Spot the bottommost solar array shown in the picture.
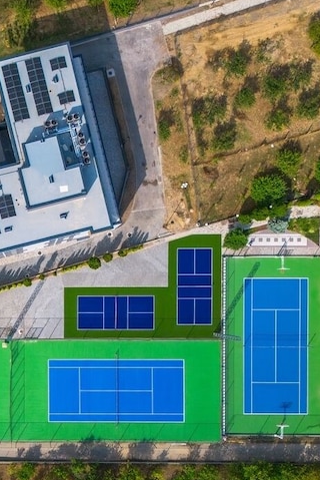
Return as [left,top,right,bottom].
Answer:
[0,194,17,219]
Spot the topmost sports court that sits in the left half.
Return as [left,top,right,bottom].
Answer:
[65,287,168,338]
